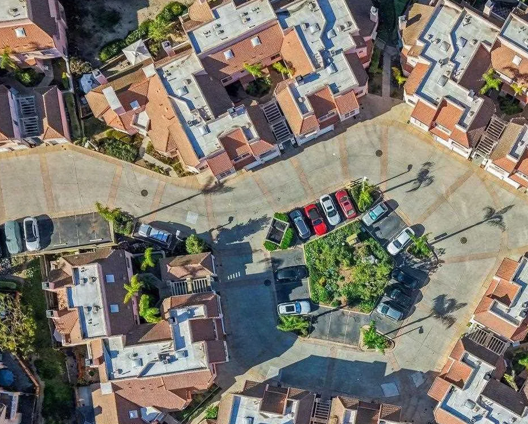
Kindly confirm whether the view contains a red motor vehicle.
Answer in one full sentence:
Yes, the frame does contain a red motor vehicle.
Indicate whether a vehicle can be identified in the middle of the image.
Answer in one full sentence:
Yes, there is a vehicle in the middle of the image.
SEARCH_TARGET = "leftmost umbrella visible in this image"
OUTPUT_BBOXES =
[0,365,18,387]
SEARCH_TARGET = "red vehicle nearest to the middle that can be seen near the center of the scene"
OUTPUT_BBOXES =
[304,204,329,237]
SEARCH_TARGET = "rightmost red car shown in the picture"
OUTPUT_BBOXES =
[334,187,359,222]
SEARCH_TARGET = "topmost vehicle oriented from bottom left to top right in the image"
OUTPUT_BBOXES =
[359,200,392,228]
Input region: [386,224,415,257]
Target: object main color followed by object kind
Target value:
white car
